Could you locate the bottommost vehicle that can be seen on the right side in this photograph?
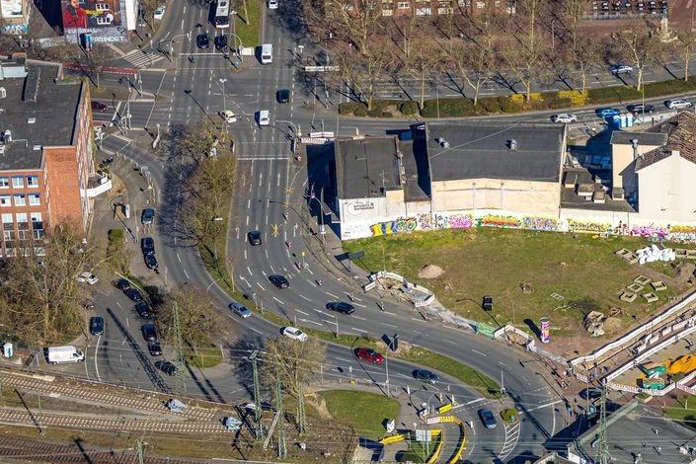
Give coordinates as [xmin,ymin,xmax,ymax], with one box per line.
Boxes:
[481,407,496,428]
